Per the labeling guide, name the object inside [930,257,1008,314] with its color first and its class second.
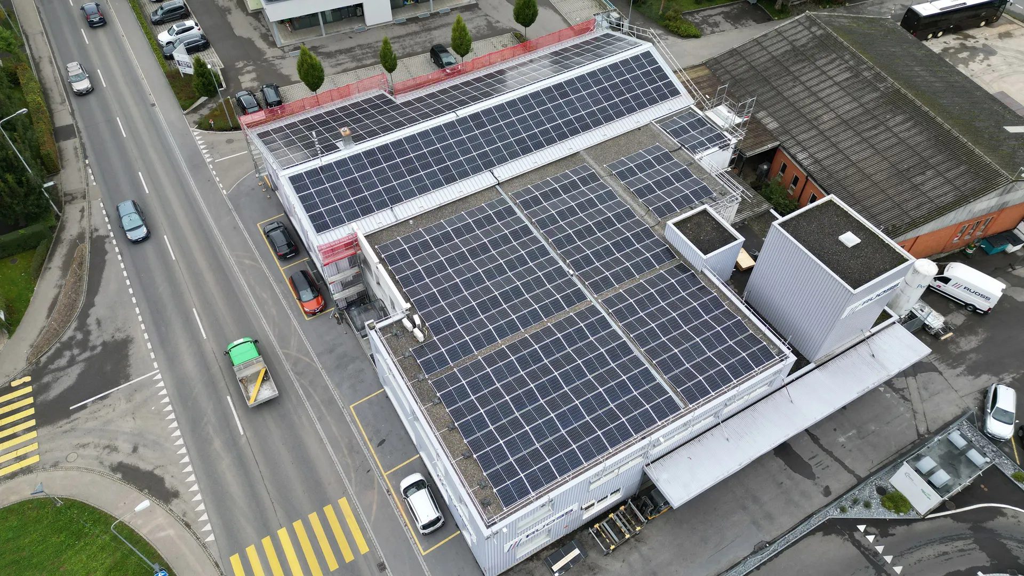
white van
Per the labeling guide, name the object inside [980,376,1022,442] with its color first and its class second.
white car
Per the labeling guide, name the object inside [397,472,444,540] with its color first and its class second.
white car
